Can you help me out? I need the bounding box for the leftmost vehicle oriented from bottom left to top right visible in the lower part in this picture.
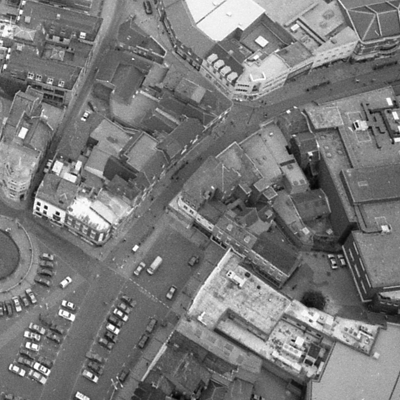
[58,275,74,289]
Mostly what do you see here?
buildings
